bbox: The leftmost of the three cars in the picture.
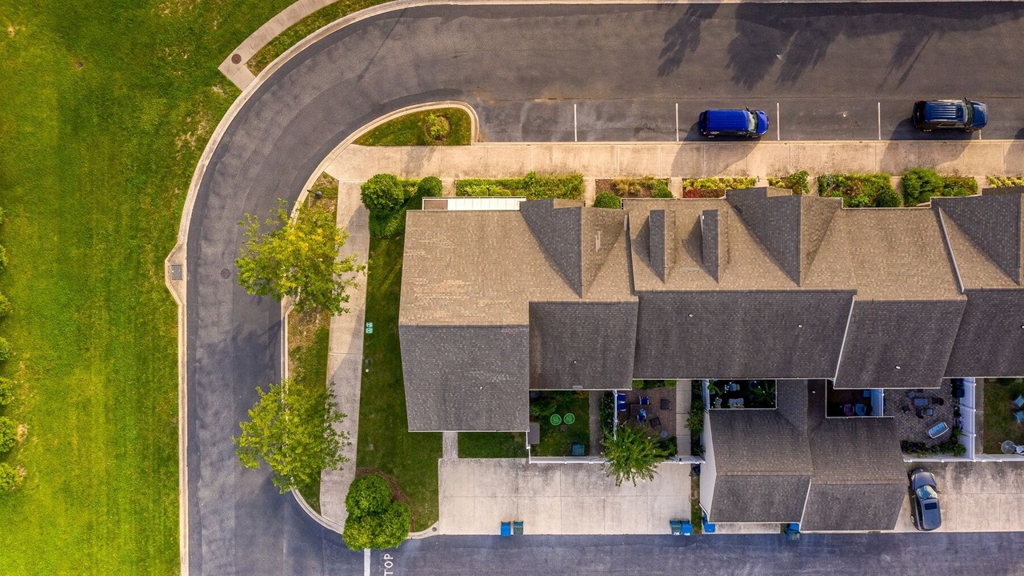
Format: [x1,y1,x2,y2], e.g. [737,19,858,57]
[698,106,769,140]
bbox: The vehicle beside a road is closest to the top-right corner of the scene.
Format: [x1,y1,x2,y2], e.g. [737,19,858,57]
[911,97,988,133]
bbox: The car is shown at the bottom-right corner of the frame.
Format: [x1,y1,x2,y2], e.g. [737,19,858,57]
[905,467,944,536]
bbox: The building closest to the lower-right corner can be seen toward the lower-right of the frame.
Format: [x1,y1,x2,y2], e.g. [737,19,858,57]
[797,415,905,531]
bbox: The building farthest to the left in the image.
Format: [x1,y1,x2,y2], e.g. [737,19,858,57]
[397,196,529,434]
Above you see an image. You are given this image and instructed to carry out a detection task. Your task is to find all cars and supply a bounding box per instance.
[905,467,944,536]
[698,106,769,140]
[911,97,988,133]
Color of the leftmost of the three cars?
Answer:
blue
